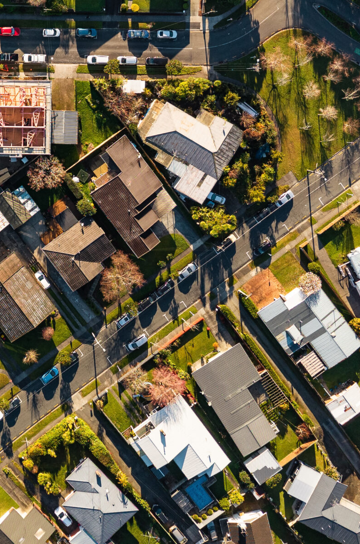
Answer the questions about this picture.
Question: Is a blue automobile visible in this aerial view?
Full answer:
Yes, there's a blue automobile here.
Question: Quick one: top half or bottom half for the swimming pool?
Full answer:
You can find the swimming pool in the bottom half.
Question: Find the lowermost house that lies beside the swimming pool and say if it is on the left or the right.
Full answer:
The lowermost house that lies beside the swimming pool appears in the right half of the scene.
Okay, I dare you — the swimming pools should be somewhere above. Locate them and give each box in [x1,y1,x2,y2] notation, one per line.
[183,475,216,503]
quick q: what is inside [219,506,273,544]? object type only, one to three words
house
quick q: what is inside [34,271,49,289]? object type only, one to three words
car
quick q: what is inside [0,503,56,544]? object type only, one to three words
house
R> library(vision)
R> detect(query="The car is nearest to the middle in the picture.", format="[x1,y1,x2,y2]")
[178,263,195,279]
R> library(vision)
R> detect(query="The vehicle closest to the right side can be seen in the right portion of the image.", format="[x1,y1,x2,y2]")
[275,190,294,206]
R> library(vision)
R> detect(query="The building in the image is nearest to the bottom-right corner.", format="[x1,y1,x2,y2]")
[285,461,360,544]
